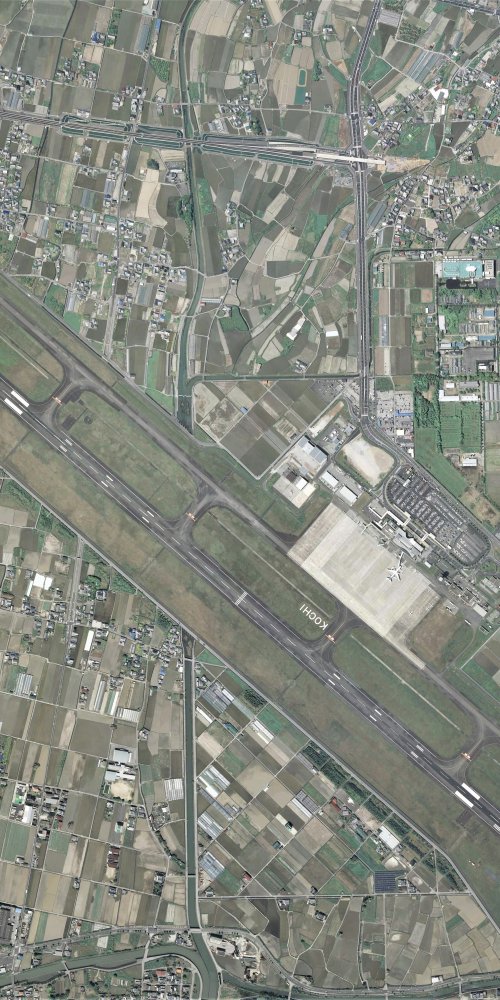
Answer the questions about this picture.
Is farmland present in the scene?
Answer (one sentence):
Yes, some farmland is visible.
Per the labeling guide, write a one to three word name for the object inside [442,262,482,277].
building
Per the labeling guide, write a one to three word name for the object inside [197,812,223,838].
greenhouse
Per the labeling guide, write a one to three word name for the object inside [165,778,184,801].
greenhouse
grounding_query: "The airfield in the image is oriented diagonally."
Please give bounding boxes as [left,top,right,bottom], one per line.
[0,273,500,928]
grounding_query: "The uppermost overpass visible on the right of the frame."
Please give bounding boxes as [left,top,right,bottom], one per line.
[268,145,388,164]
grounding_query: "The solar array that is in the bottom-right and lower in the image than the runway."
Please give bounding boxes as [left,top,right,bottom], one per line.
[373,872,396,892]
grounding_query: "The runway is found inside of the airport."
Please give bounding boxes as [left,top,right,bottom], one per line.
[0,378,500,835]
